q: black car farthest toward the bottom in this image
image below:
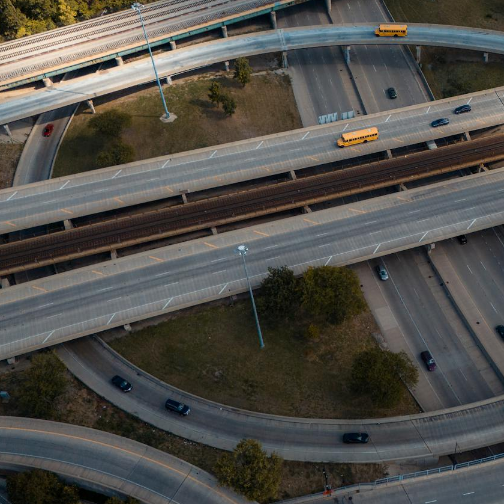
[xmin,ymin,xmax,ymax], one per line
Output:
[341,431,370,444]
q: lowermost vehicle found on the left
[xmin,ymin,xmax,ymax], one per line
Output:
[164,396,192,416]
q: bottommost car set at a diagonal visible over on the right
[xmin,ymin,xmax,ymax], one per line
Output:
[419,349,437,372]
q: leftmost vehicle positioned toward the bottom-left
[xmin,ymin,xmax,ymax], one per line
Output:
[108,371,132,392]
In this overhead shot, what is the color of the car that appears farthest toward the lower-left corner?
black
